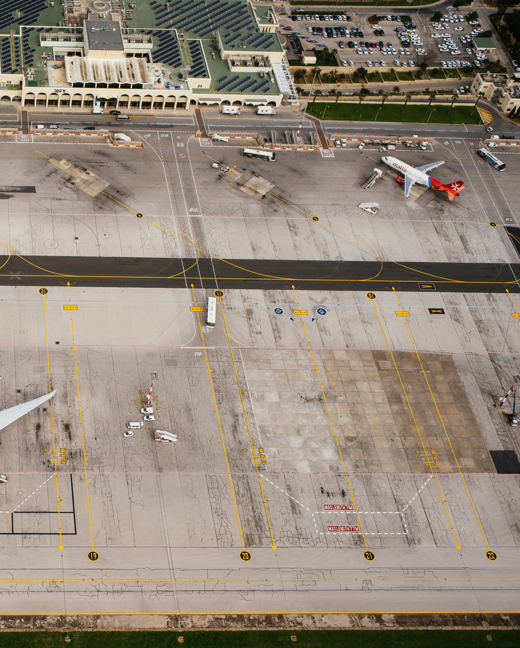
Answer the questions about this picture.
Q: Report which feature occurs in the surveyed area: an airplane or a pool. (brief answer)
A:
airplane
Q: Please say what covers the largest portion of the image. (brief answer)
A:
paved ground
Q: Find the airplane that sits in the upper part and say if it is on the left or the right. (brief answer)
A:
right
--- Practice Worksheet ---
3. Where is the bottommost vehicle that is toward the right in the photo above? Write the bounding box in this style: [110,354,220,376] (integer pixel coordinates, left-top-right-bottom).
[507,403,520,429]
